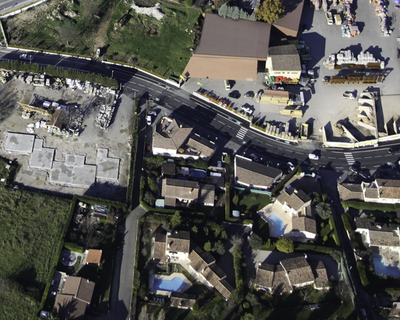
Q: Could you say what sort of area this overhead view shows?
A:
residential area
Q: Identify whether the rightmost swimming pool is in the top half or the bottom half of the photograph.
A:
bottom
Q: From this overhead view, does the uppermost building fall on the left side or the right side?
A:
right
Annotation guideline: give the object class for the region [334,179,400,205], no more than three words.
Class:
house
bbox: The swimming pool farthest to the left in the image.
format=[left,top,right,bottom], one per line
[61,254,78,267]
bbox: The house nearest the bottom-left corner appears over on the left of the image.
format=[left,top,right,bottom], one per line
[53,273,97,320]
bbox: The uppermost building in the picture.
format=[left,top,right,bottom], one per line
[272,0,319,45]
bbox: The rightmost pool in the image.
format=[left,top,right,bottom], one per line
[372,256,400,279]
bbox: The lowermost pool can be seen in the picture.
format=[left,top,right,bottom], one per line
[153,275,189,292]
